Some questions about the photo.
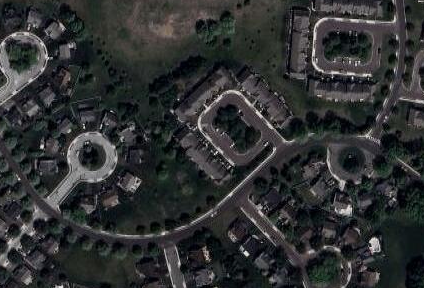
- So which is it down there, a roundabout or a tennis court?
roundabout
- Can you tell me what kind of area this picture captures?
residential area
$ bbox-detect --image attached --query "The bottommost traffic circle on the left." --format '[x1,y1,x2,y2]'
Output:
[68,134,116,182]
